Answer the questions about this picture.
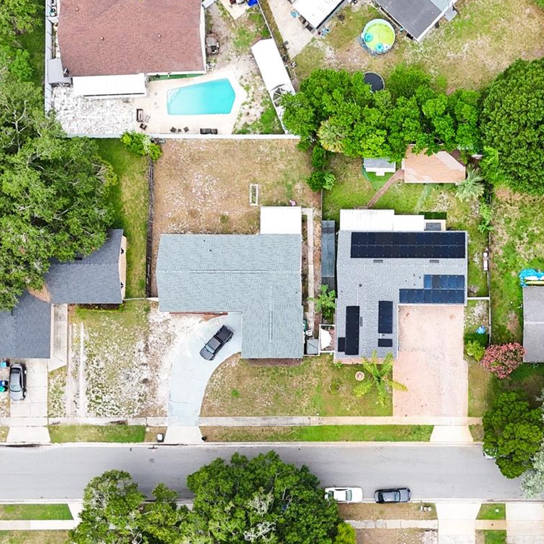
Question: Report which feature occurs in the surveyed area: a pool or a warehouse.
pool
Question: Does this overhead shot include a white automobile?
Yes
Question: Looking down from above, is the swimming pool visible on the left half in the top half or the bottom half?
top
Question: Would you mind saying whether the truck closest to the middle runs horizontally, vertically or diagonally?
diagonally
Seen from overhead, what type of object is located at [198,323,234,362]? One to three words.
truck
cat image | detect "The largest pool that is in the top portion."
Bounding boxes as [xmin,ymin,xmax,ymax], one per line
[135,68,247,133]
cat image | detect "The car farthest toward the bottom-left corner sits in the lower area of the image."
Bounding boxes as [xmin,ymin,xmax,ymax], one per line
[6,364,24,400]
